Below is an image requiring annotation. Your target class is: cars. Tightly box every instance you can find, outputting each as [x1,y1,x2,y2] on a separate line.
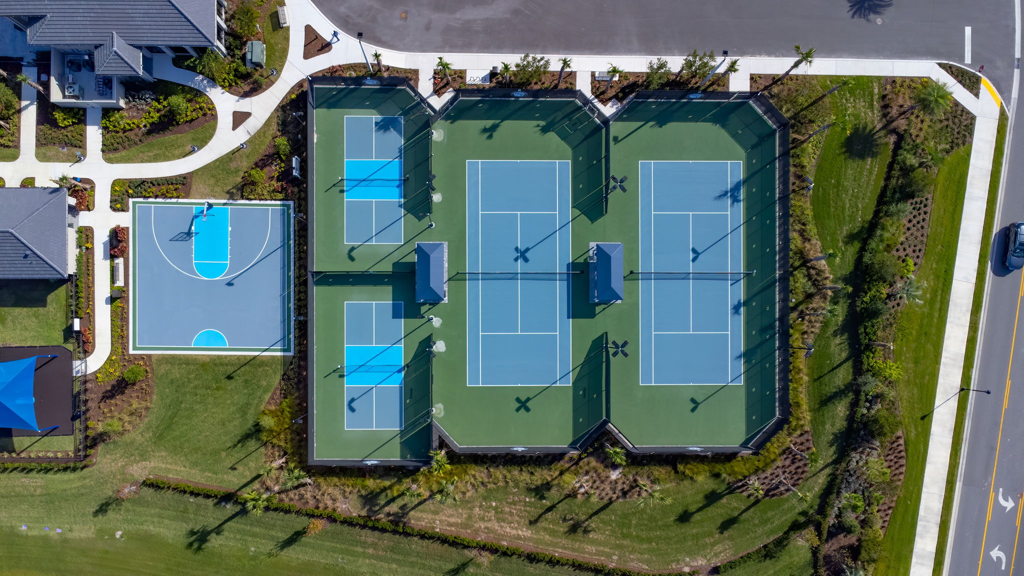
[1003,224,1024,270]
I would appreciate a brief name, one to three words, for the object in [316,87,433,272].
sports court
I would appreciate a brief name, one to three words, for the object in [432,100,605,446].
tennis court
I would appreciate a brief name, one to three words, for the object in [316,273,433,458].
sports court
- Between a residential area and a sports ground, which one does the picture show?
sports ground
